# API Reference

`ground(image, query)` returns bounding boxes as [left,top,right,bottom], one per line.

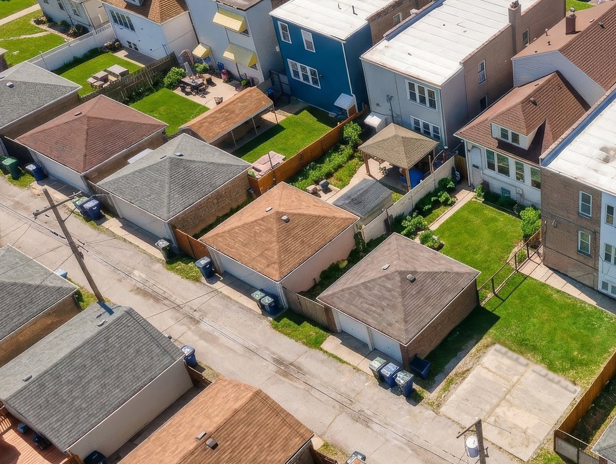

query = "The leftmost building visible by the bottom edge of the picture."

[0,298,191,464]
